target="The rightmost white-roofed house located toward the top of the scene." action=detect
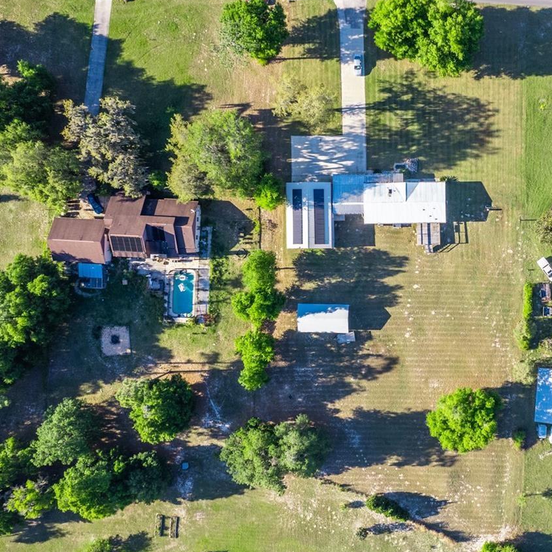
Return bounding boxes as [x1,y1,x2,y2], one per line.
[332,173,446,223]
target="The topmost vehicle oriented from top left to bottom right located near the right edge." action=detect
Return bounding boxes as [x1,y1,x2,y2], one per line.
[536,256,552,282]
